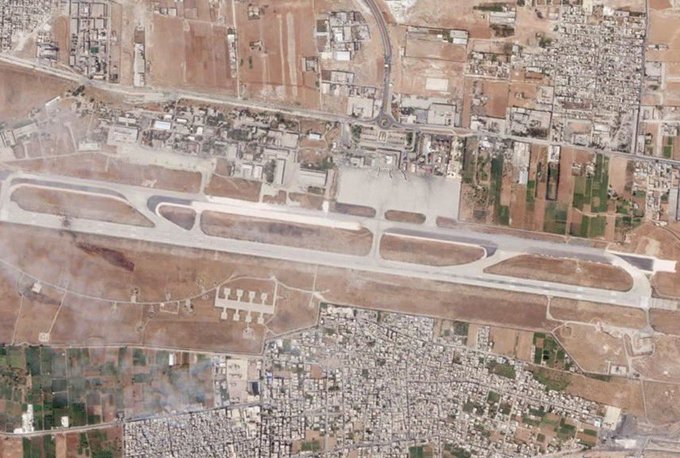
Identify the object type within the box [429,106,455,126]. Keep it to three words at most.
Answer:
building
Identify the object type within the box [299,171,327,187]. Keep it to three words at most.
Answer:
hangar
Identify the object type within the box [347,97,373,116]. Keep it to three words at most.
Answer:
building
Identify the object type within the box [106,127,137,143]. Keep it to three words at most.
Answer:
hangar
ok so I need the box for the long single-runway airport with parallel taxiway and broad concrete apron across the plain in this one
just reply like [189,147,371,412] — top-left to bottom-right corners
[0,123,680,350]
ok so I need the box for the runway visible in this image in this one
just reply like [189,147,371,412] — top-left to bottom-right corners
[0,210,649,307]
